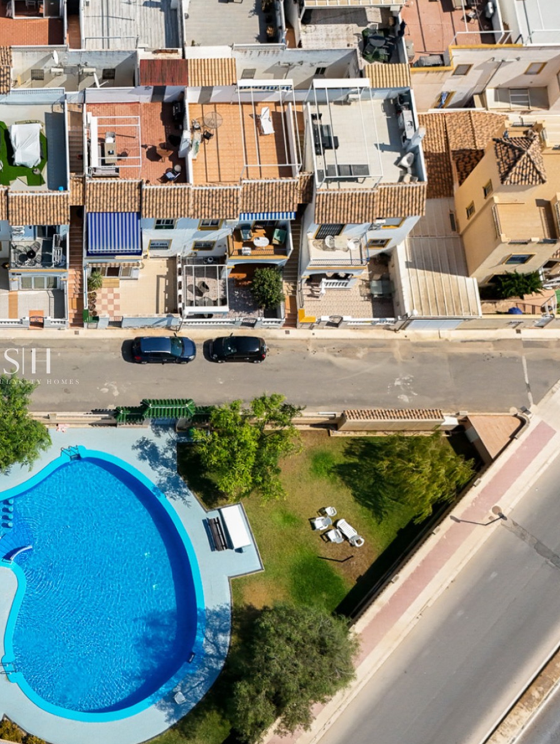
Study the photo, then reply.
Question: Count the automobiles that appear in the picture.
two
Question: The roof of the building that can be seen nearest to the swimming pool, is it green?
Yes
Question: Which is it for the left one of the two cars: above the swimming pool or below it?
above it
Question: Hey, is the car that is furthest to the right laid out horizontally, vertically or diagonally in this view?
horizontally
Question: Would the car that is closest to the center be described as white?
No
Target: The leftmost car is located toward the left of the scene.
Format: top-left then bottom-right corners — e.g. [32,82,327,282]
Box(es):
[131,334,197,367]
